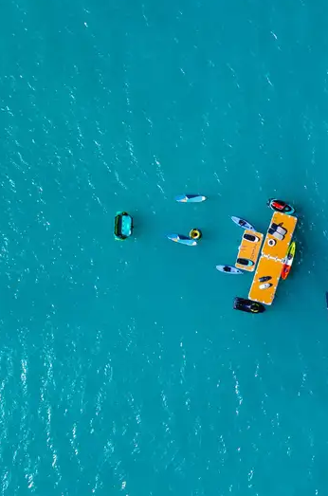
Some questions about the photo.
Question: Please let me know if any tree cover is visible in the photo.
No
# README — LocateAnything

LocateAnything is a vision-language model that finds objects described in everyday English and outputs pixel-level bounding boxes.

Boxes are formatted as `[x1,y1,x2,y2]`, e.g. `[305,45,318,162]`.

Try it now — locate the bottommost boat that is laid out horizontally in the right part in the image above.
[232,298,267,313]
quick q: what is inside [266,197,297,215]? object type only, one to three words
boat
